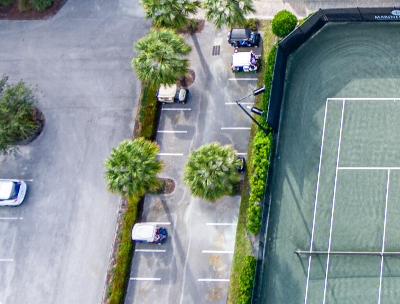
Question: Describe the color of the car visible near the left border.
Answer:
white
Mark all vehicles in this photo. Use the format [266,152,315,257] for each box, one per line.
[0,182,29,208]
[227,27,261,49]
[126,225,166,247]
[152,83,189,105]
[225,53,259,75]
